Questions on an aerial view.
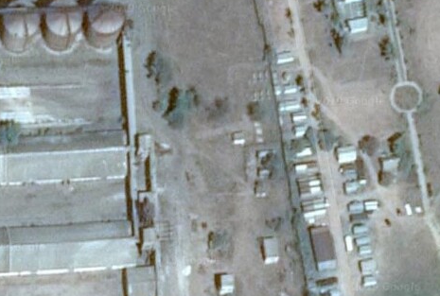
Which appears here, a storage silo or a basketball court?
storage silo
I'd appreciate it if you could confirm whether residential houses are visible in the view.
Yes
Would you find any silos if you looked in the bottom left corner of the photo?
No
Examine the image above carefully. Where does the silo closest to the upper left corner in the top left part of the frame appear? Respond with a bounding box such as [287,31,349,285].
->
[1,3,40,52]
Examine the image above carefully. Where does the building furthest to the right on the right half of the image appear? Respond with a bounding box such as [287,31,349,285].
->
[380,157,402,175]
